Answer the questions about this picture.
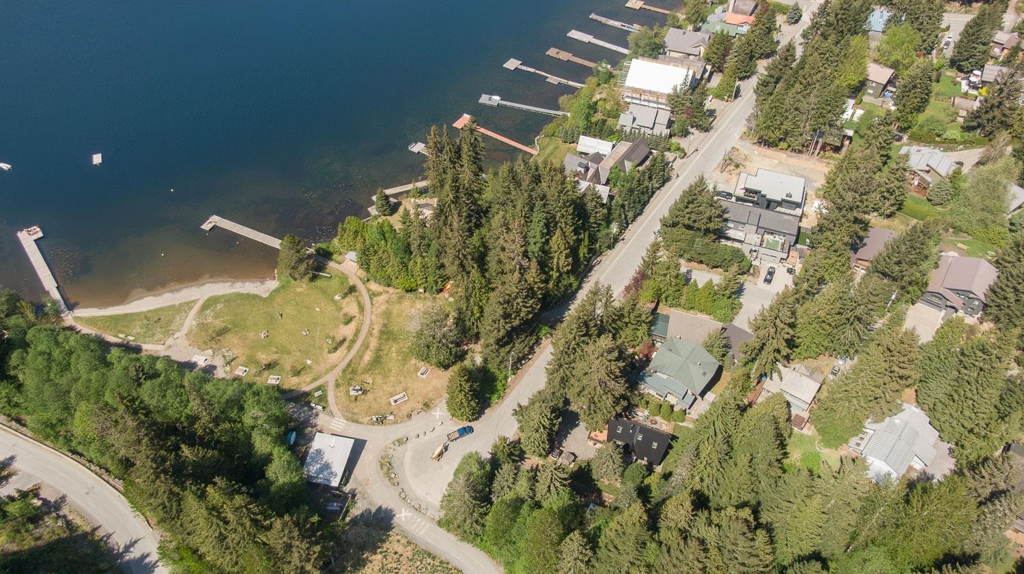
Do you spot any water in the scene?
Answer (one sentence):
Yes, there is water in the image.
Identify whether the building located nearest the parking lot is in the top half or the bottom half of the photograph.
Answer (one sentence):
The building located nearest the parking lot sits in the bottom half of the picture.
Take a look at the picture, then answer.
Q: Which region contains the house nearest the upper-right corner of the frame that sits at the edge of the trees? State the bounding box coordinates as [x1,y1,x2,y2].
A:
[986,31,1019,64]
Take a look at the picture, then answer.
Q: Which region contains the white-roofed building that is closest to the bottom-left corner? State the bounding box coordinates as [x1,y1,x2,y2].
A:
[305,433,355,490]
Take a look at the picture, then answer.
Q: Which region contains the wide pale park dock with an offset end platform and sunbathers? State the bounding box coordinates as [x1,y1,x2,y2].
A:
[18,226,72,311]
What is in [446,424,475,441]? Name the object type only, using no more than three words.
vehicle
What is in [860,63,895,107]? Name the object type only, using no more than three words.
house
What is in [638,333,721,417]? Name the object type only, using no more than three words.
house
